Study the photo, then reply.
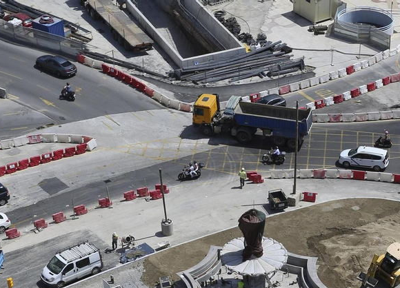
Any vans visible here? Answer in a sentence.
Yes, you can see a van in this photo.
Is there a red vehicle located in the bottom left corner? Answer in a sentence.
No, there's no red vehicle to be seen in the bottom left corner.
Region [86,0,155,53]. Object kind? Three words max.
trailer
